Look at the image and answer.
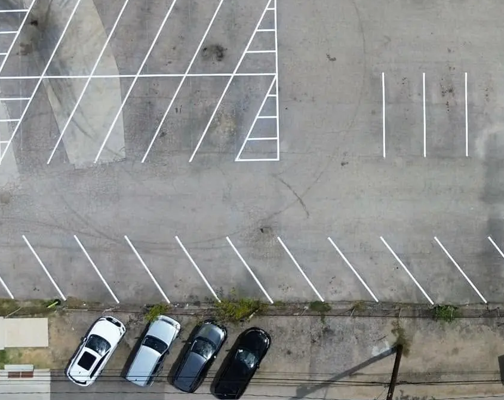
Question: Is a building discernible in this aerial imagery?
No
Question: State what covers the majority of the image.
paved ground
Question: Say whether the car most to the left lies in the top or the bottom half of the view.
bottom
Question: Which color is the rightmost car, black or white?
black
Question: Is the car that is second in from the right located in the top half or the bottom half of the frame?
bottom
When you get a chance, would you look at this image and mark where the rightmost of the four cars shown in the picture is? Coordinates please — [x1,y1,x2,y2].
[215,322,273,400]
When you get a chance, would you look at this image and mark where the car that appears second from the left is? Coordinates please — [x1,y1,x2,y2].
[125,310,183,388]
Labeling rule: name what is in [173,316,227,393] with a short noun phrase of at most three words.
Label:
car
